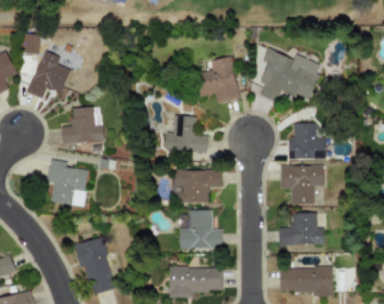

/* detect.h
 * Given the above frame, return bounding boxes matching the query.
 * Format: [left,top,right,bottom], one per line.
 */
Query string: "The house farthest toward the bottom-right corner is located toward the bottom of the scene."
[280,268,334,297]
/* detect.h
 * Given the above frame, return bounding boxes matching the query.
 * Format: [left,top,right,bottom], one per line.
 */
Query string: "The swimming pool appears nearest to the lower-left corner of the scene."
[152,211,172,232]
